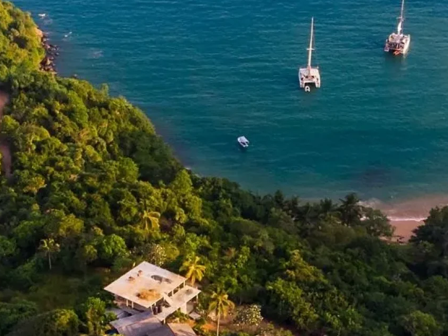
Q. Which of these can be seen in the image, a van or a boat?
boat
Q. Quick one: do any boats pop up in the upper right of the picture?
Yes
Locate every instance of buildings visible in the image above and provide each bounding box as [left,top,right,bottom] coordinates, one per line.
[148,323,196,336]
[104,262,200,323]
